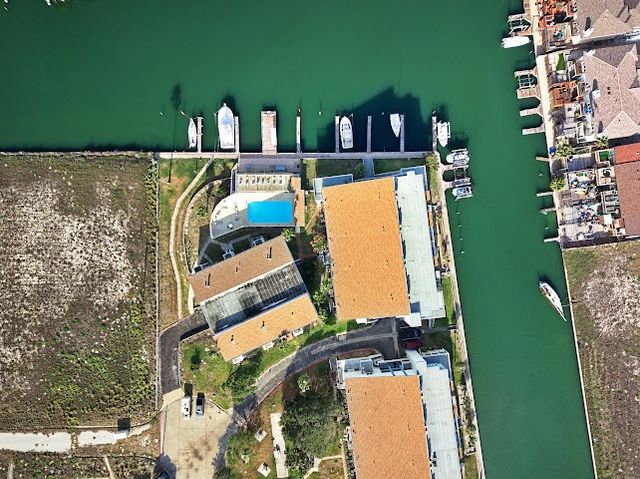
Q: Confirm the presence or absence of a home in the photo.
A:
Yes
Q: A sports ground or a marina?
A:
marina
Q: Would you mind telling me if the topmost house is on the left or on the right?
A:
right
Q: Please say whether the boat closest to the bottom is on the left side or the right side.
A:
right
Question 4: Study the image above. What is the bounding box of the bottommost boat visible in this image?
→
[536,281,575,318]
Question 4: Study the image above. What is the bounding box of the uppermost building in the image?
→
[563,0,640,50]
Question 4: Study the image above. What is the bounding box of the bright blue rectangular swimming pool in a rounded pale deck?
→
[209,192,295,239]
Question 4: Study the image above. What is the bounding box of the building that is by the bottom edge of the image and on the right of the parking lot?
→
[336,343,467,479]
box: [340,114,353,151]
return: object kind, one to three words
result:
boat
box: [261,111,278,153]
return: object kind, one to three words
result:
pier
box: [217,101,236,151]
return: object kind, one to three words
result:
boat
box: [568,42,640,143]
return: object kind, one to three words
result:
house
